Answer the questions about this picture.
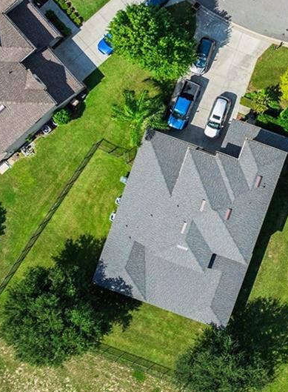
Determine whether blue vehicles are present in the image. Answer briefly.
Yes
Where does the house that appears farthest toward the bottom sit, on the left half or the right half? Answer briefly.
right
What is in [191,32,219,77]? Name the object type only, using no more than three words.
car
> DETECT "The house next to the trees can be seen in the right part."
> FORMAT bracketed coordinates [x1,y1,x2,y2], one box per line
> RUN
[93,119,288,326]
